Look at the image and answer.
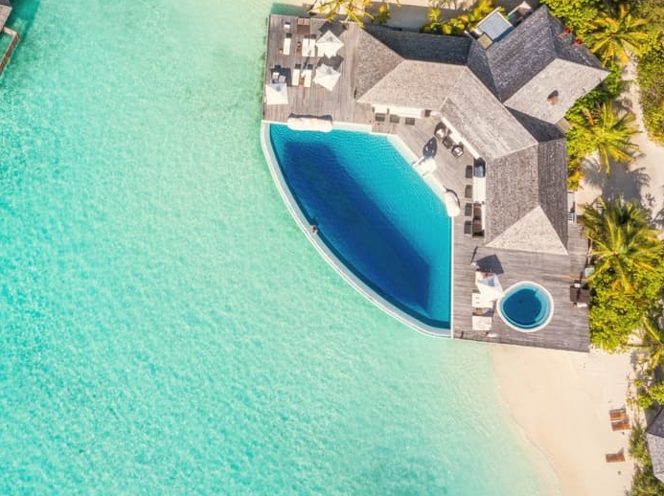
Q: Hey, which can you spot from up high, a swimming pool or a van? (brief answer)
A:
swimming pool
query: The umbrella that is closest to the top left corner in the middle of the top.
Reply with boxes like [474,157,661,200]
[264,83,289,107]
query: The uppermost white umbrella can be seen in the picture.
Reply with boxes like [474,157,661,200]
[311,28,344,61]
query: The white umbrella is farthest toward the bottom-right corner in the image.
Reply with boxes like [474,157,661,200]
[471,268,506,302]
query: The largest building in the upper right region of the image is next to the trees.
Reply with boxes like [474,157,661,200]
[357,4,610,255]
